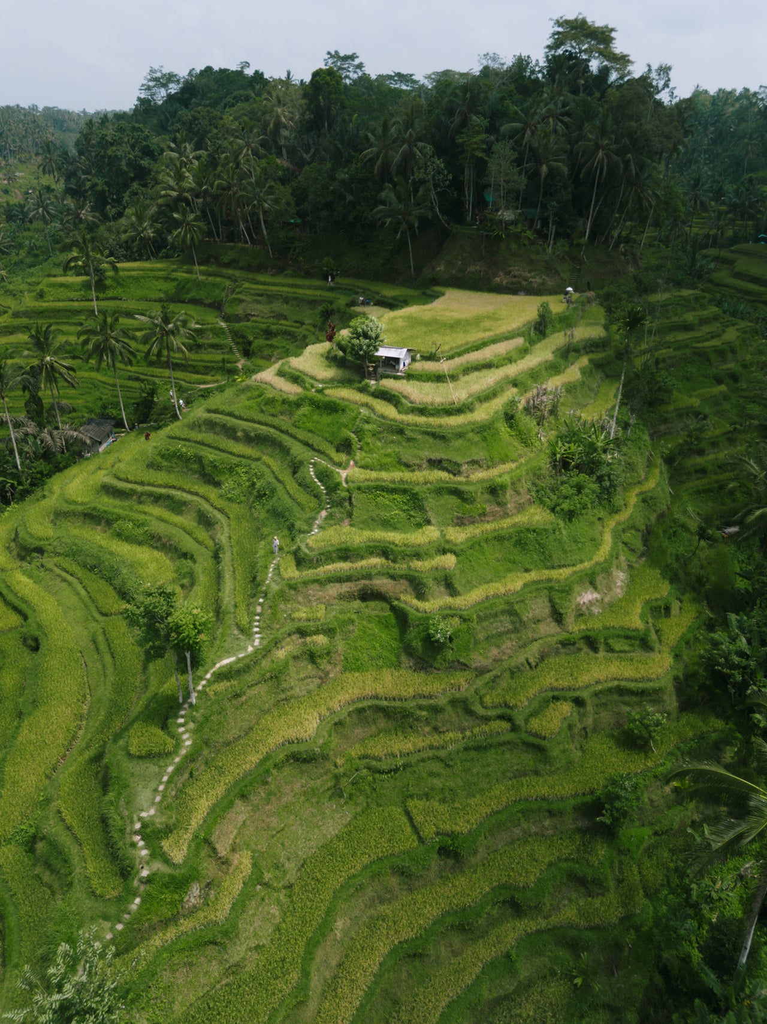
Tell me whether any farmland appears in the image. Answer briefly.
Yes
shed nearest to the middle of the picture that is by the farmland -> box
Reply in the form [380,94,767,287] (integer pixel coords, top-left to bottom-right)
[371,350,415,385]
